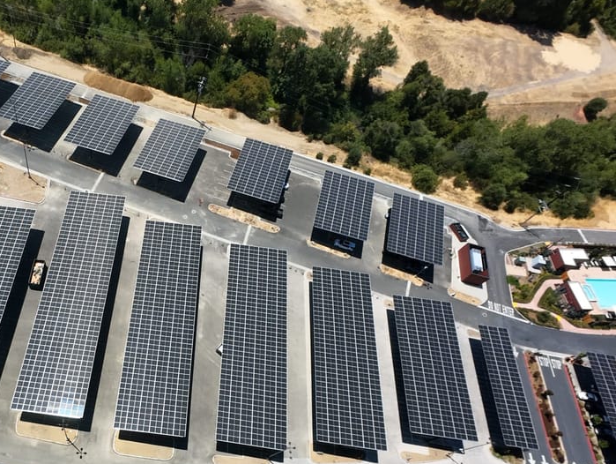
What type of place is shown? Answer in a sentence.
This looks like a solar farm.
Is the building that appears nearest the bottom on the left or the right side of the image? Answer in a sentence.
The building that appears nearest the bottom is on the right side of the image.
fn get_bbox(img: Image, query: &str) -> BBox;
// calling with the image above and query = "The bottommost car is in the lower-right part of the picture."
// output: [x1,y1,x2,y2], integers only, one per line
[593,427,615,440]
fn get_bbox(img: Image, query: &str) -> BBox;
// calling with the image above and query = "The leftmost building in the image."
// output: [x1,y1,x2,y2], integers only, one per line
[455,244,488,291]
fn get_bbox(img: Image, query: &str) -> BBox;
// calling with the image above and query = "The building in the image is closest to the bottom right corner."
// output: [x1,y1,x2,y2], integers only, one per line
[556,281,594,315]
